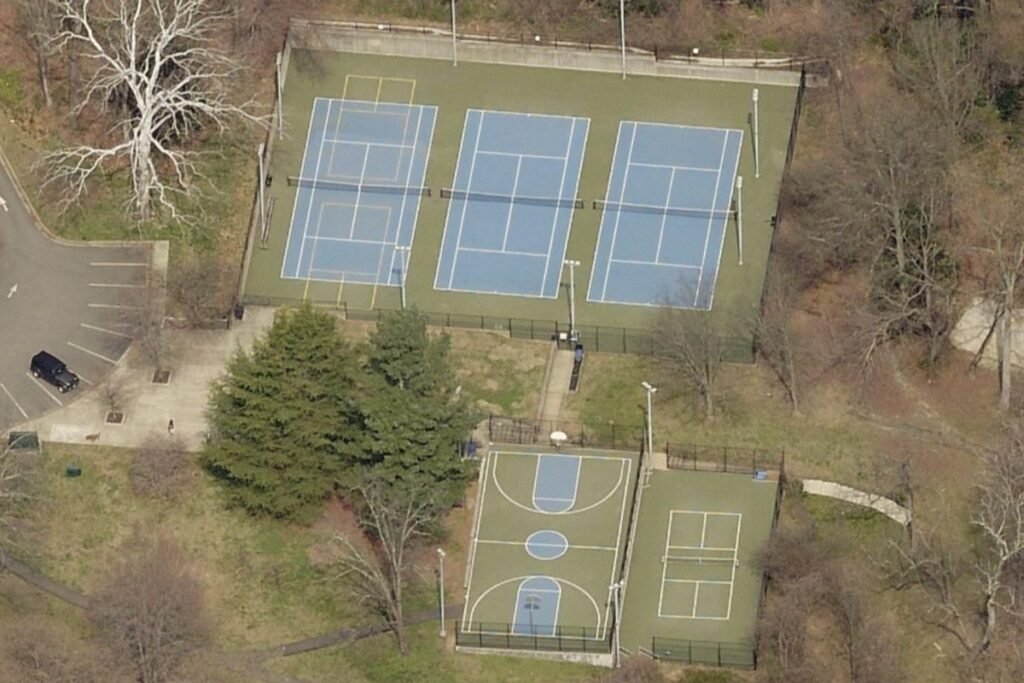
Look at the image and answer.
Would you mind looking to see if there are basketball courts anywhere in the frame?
Yes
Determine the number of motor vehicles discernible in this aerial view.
1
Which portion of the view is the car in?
left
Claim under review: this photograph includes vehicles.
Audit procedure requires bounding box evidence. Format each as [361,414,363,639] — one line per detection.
[30,348,79,390]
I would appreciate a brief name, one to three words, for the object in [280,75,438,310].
tennis court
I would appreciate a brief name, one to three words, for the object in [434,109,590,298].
tennis court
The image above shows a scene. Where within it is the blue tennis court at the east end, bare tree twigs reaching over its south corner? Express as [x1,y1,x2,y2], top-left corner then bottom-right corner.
[588,121,743,310]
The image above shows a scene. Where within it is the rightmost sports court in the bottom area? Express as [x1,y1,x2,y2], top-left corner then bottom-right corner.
[658,511,742,620]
